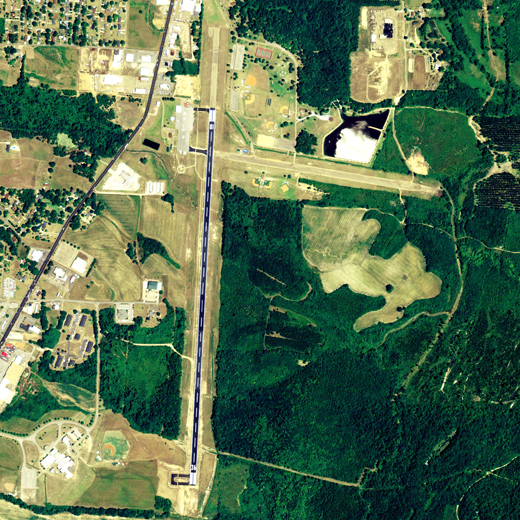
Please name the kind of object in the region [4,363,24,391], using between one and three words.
building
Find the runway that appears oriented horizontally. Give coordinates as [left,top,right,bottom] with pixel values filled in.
[213,151,441,193]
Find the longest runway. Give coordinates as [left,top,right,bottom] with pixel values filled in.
[190,108,215,486]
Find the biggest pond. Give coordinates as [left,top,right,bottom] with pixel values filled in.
[322,108,391,164]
